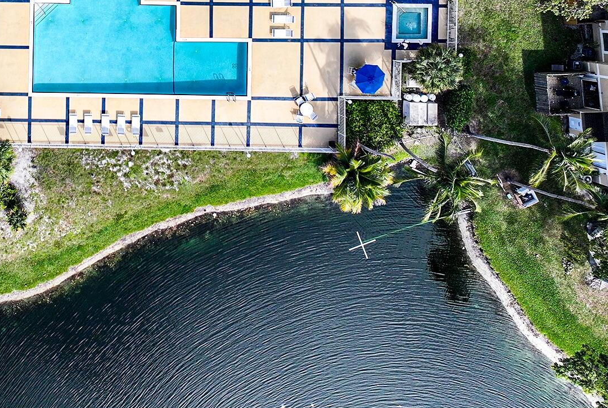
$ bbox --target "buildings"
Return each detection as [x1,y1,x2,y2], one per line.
[578,59,608,198]
[397,99,436,125]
